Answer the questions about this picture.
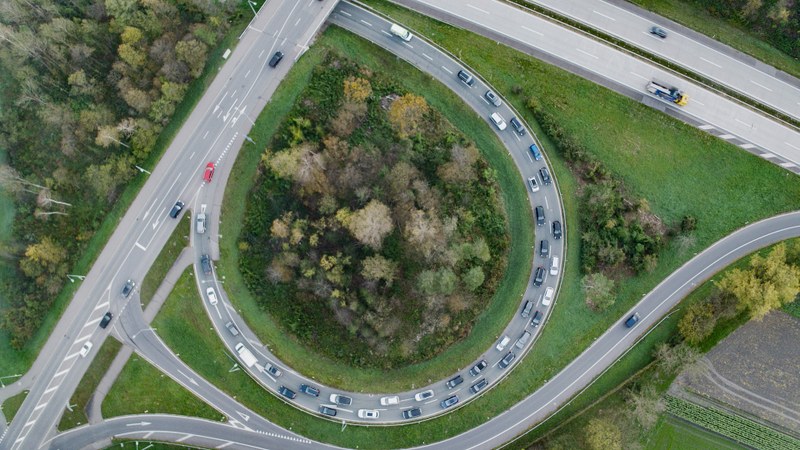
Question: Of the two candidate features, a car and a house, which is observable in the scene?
car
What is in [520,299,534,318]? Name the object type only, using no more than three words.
vehicle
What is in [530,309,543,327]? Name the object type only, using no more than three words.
vehicle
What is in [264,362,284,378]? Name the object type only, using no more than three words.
car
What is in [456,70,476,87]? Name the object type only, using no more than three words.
car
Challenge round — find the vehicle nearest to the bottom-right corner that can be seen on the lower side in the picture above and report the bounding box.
[623,311,640,328]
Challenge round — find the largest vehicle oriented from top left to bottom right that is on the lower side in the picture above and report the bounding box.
[234,342,259,371]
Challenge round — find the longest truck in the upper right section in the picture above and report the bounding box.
[644,80,691,107]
